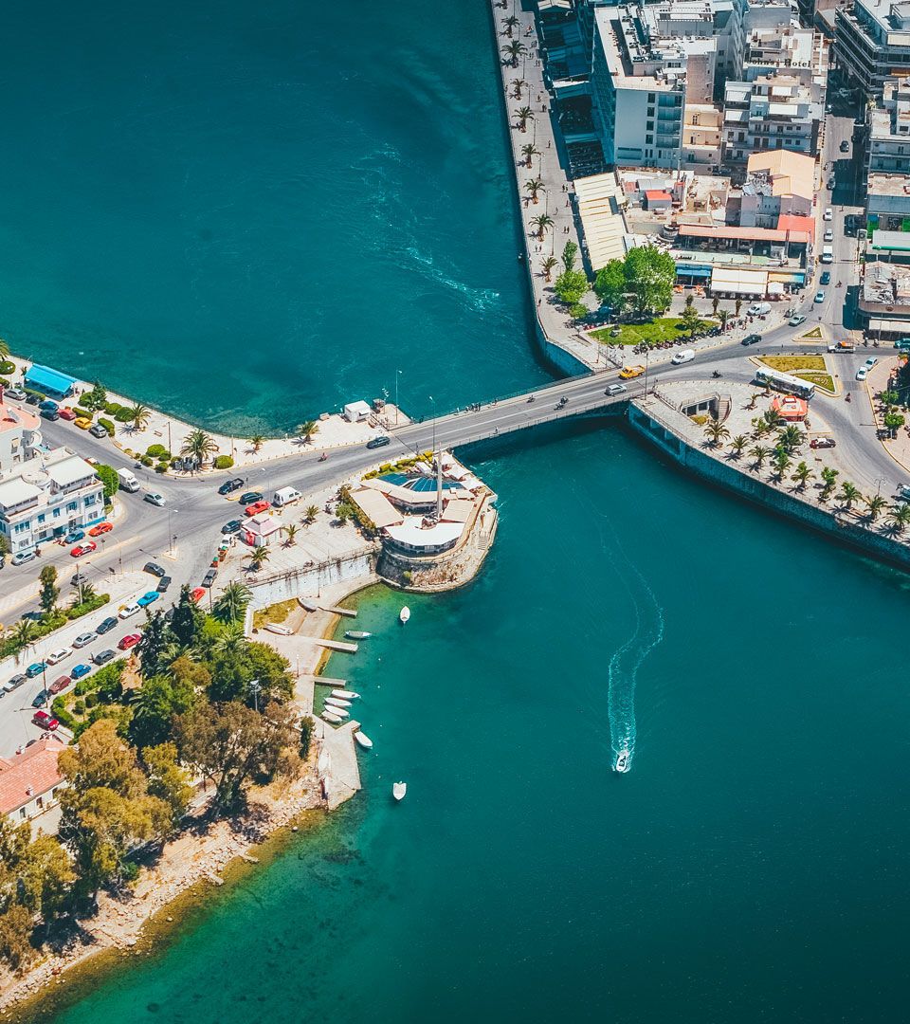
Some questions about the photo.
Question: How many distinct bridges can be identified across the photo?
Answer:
one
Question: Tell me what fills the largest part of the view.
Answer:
water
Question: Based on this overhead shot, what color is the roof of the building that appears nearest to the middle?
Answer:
white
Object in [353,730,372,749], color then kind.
white boat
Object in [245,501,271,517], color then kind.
red vehicle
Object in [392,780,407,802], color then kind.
white boat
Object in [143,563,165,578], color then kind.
gray car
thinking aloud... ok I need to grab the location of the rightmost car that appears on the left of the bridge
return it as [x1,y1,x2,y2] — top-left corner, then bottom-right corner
[366,435,391,449]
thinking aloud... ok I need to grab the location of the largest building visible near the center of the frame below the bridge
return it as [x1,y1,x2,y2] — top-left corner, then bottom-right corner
[350,451,494,558]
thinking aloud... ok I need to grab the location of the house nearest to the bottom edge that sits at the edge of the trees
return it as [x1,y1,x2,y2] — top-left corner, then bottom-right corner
[0,738,61,832]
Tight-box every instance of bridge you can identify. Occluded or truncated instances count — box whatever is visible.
[408,367,632,457]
